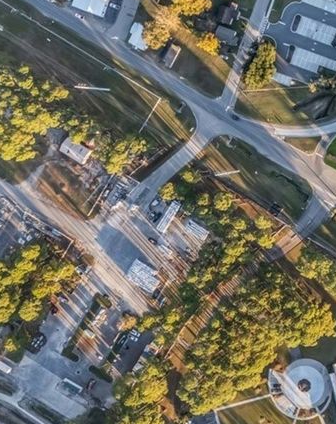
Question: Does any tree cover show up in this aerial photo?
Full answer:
Yes, some tree cover is visible.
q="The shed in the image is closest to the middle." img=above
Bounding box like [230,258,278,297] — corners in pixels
[156,201,182,233]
